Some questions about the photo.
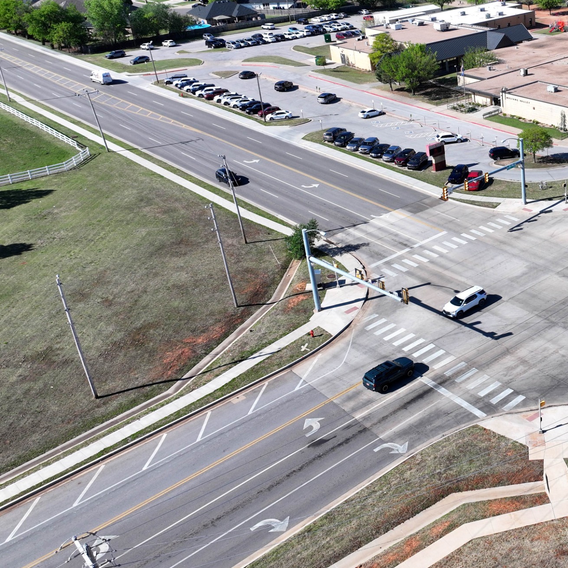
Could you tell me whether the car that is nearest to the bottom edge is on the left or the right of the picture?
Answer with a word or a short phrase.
right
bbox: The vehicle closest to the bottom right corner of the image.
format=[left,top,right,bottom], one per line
[358,360,417,398]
